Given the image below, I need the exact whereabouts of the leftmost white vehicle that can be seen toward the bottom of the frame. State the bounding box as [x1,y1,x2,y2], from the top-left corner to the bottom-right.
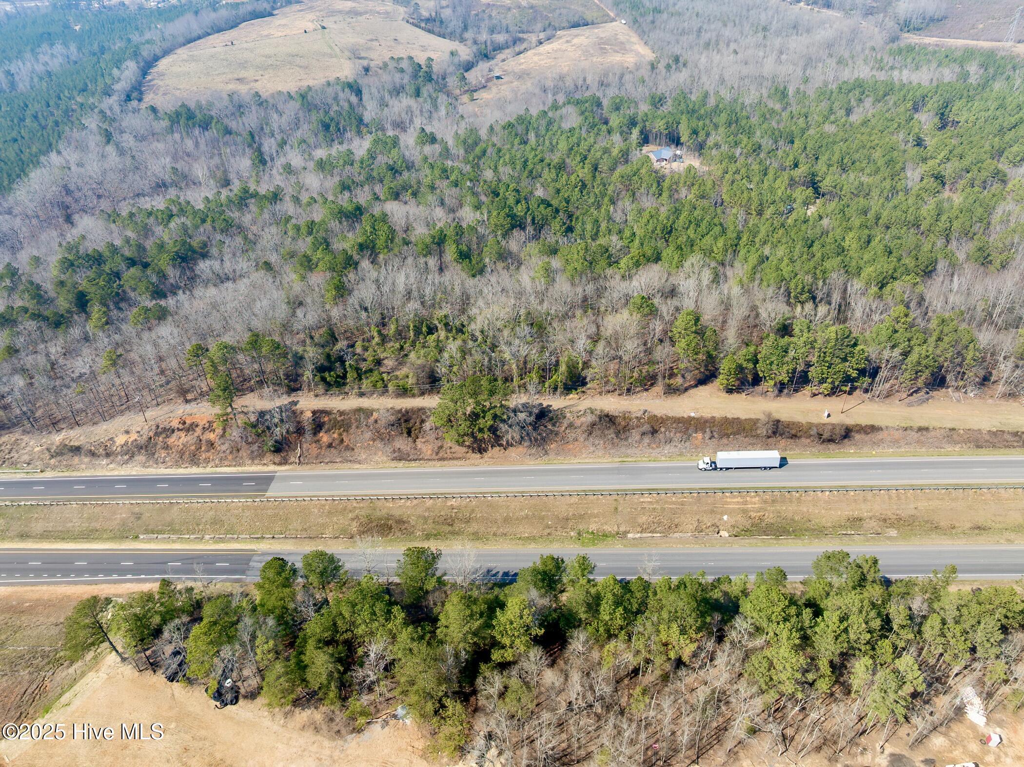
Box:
[696,451,782,470]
